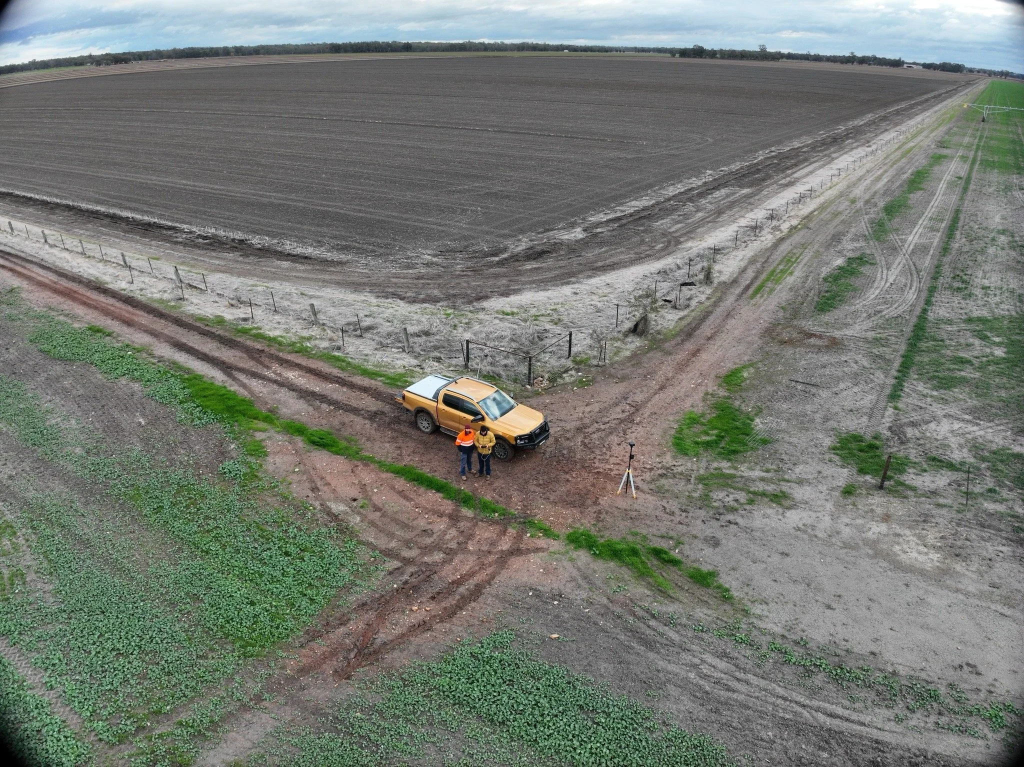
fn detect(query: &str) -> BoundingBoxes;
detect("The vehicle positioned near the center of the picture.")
[394,374,553,462]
